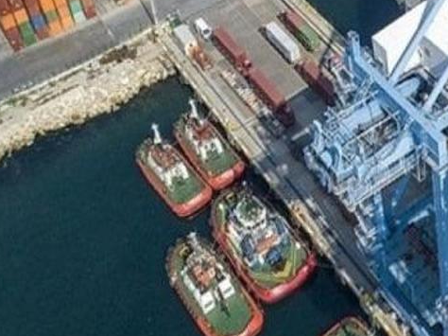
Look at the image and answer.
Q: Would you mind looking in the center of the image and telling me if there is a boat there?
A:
Yes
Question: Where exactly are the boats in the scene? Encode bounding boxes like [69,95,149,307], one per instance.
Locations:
[323,317,375,336]
[174,84,254,193]
[134,111,215,224]
[214,162,323,303]
[169,219,267,336]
